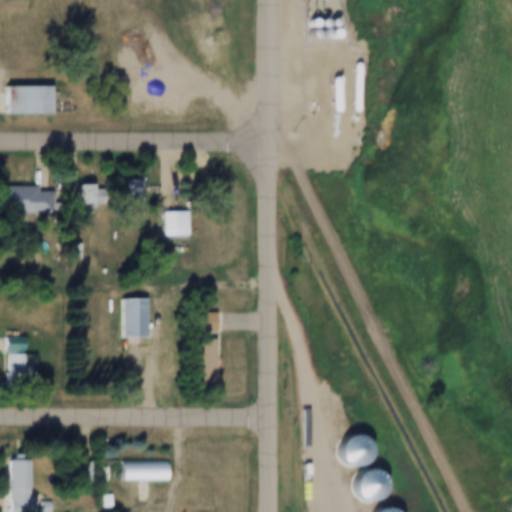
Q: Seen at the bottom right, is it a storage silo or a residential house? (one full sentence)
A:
The feature located at the bottom right is a storage silo.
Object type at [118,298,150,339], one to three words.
building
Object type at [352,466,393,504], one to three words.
silo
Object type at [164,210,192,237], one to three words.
house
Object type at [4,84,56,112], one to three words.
shed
